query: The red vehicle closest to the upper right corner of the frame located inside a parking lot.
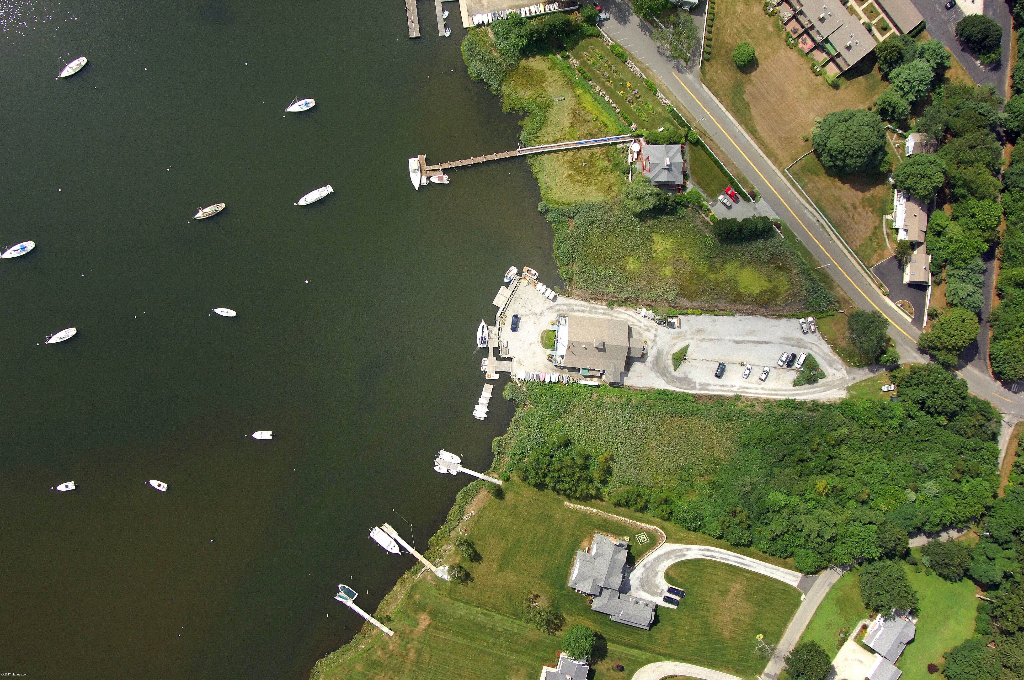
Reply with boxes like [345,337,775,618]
[725,187,740,203]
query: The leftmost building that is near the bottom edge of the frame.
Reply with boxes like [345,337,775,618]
[540,652,589,680]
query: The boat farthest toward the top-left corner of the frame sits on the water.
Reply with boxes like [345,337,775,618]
[58,57,89,77]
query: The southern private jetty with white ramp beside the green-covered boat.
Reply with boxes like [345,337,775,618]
[336,592,394,636]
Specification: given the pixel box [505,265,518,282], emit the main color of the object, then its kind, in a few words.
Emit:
white boat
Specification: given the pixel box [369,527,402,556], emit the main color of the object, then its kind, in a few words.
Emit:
white boat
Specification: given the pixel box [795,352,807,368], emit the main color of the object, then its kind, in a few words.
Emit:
white vehicle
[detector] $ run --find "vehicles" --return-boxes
[718,195,732,209]
[785,352,797,368]
[798,318,808,334]
[714,362,726,379]
[807,317,816,333]
[944,0,957,11]
[510,314,519,331]
[662,595,680,606]
[795,352,807,368]
[725,187,740,203]
[666,586,686,598]
[596,12,610,21]
[777,351,789,367]
[742,364,752,378]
